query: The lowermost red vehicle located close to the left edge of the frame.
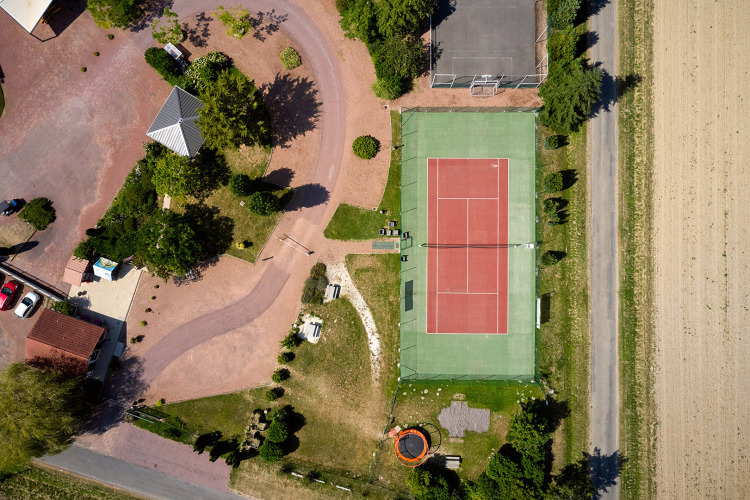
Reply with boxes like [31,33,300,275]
[0,279,23,309]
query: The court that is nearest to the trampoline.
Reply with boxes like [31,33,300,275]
[399,111,536,380]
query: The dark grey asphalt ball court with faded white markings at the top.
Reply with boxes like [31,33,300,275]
[431,0,535,89]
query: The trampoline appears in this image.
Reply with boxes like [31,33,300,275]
[395,426,428,466]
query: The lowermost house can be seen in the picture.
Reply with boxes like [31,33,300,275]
[25,307,110,384]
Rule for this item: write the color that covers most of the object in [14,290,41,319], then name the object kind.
white car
